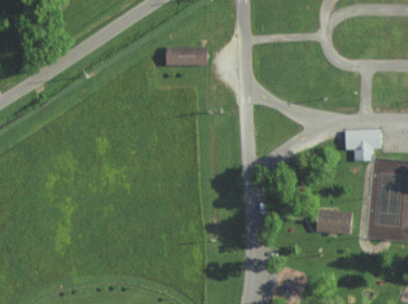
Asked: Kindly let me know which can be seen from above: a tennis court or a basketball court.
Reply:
tennis court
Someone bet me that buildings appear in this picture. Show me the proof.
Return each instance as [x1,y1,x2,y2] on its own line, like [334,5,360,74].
[344,130,382,162]
[166,46,208,67]
[316,208,352,236]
